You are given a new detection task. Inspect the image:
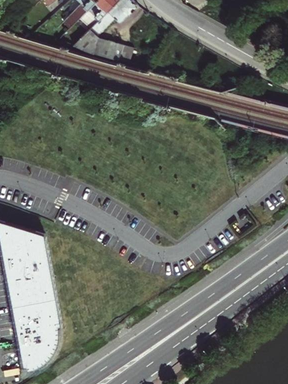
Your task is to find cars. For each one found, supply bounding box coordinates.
[68,216,76,228]
[82,188,90,200]
[218,232,228,244]
[206,242,216,254]
[6,190,12,200]
[265,199,274,209]
[130,217,138,228]
[97,232,105,242]
[224,229,233,239]
[270,194,280,206]
[166,264,171,275]
[174,264,180,275]
[180,260,187,272]
[63,213,72,225]
[74,218,82,230]
[20,194,28,206]
[128,252,136,264]
[12,190,19,202]
[186,258,194,268]
[0,186,6,198]
[102,234,110,244]
[276,190,286,202]
[212,238,222,248]
[102,198,110,208]
[119,246,126,256]
[58,209,66,220]
[0,308,8,313]
[26,198,33,208]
